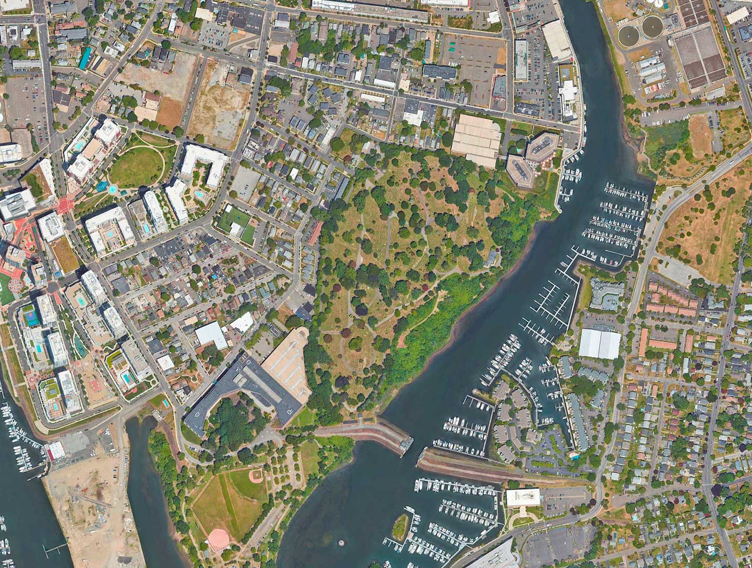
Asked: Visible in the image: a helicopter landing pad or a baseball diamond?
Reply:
baseball diamond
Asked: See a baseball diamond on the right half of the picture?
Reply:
No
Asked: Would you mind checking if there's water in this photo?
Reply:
Yes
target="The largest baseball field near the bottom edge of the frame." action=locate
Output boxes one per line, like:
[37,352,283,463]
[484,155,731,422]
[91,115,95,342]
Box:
[191,466,267,552]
